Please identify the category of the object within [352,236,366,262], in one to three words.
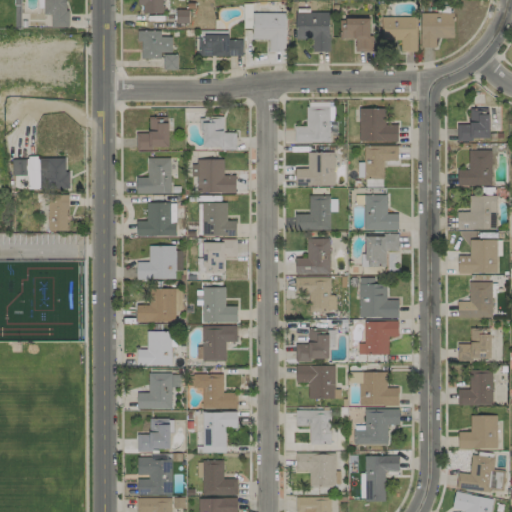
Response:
swimming pool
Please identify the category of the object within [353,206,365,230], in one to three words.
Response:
swimming pool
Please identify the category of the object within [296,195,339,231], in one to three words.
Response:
house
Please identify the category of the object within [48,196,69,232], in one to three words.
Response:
building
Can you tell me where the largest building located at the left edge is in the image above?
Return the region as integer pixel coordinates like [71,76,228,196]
[13,156,70,190]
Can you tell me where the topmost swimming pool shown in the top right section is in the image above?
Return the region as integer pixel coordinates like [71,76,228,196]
[394,2,417,16]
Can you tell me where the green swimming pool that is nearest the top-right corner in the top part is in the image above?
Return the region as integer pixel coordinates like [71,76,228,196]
[495,153,508,182]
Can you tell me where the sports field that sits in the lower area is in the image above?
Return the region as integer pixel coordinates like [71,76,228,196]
[0,342,86,512]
